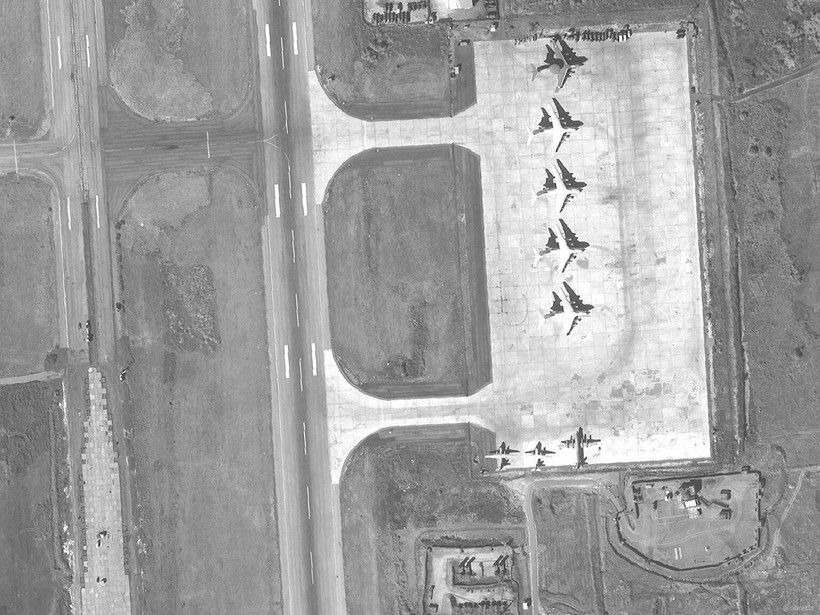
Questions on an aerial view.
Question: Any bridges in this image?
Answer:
No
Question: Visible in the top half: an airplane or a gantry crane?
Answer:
airplane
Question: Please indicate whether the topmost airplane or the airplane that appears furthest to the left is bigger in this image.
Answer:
the topmost airplane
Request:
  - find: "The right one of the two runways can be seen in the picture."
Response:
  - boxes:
[252,0,346,615]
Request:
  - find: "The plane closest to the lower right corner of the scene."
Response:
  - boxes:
[557,431,597,471]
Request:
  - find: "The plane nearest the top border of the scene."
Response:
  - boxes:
[529,39,585,93]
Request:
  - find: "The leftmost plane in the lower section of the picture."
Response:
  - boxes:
[485,445,516,472]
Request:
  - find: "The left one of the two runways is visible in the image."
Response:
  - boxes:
[30,0,114,364]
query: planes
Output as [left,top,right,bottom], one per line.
[521,444,552,472]
[529,39,585,93]
[525,103,581,157]
[557,431,597,471]
[529,165,585,219]
[531,225,587,279]
[536,287,592,341]
[485,445,516,472]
